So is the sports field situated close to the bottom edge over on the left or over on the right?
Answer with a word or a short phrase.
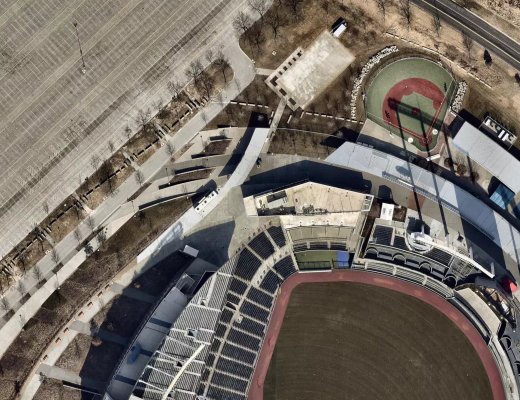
right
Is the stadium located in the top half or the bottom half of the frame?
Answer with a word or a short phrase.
bottom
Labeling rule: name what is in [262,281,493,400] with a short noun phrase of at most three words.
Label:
sports field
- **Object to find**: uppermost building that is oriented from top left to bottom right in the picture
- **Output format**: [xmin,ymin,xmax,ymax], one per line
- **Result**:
[452,120,520,198]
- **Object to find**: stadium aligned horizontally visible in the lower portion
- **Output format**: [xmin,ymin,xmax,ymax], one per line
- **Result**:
[101,206,515,400]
